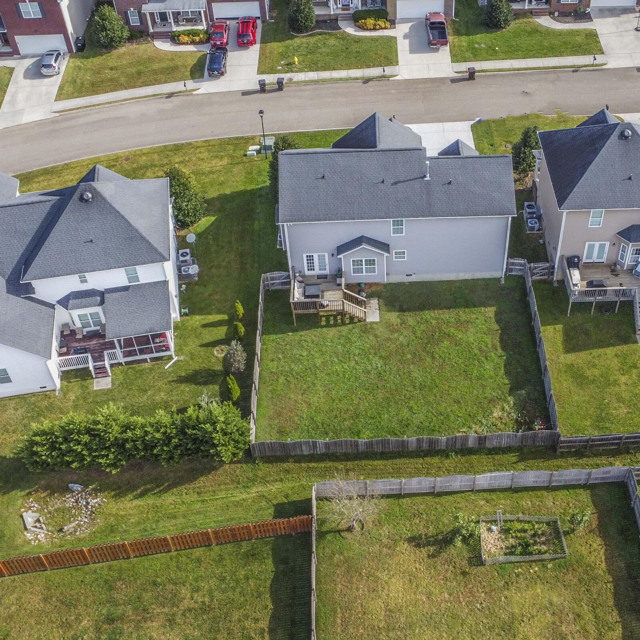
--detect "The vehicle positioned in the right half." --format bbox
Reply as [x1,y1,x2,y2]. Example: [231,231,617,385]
[427,12,449,46]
